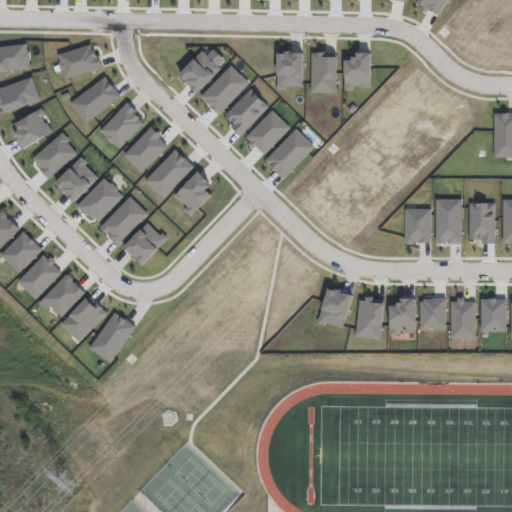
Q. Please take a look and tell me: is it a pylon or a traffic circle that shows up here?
pylon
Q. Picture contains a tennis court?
Yes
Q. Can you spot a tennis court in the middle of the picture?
No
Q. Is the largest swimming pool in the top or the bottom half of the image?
top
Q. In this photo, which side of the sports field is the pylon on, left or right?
left of it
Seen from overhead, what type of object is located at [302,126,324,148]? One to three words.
swimming pool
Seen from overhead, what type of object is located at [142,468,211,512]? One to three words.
tennis court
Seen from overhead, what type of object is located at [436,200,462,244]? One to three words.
house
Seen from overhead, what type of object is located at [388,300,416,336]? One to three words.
house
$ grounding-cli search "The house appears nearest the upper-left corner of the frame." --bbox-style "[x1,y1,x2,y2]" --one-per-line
[0,42,30,74]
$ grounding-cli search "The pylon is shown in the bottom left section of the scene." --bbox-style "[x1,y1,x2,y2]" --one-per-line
[44,466,82,496]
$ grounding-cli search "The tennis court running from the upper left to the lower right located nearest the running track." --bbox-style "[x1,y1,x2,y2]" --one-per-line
[164,444,240,512]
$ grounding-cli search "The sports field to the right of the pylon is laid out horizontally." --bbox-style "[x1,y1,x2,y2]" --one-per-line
[270,395,512,512]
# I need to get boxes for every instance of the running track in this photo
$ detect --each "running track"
[257,382,512,512]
